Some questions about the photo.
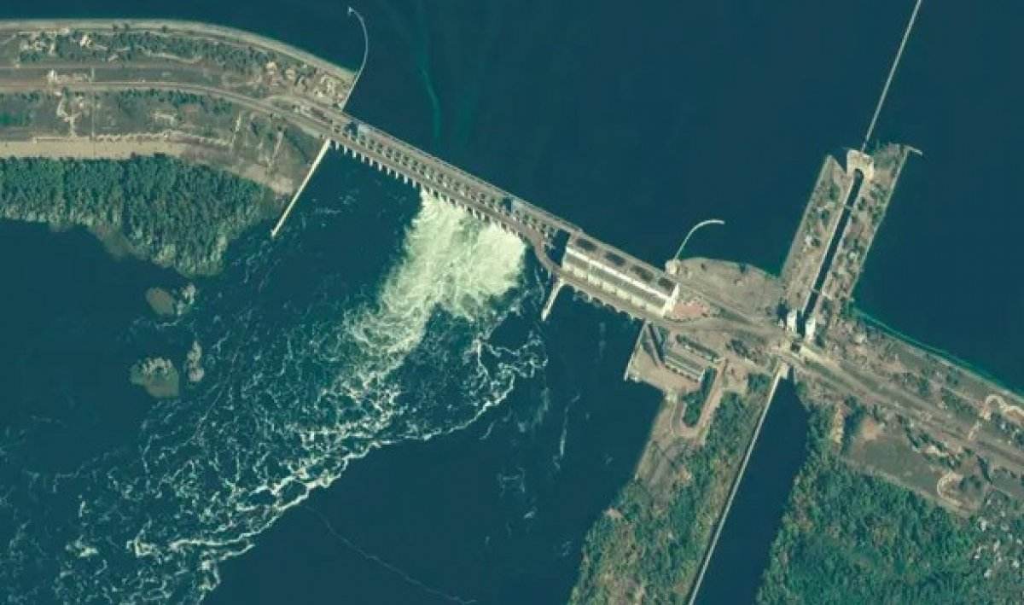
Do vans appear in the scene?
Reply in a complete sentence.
No, there is no van in the image.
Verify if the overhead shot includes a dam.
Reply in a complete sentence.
Yes, the picture does show a dam.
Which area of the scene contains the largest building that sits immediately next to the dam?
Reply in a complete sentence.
You can find the largest building that sits immediately next to the dam in the center area of the picture.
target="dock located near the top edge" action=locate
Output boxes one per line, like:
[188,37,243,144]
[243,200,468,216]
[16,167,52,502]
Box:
[863,0,922,152]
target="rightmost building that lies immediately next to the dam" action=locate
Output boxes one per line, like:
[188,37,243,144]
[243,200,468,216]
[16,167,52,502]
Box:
[552,231,680,326]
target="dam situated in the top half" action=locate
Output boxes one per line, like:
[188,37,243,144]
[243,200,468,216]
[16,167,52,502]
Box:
[330,115,585,246]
